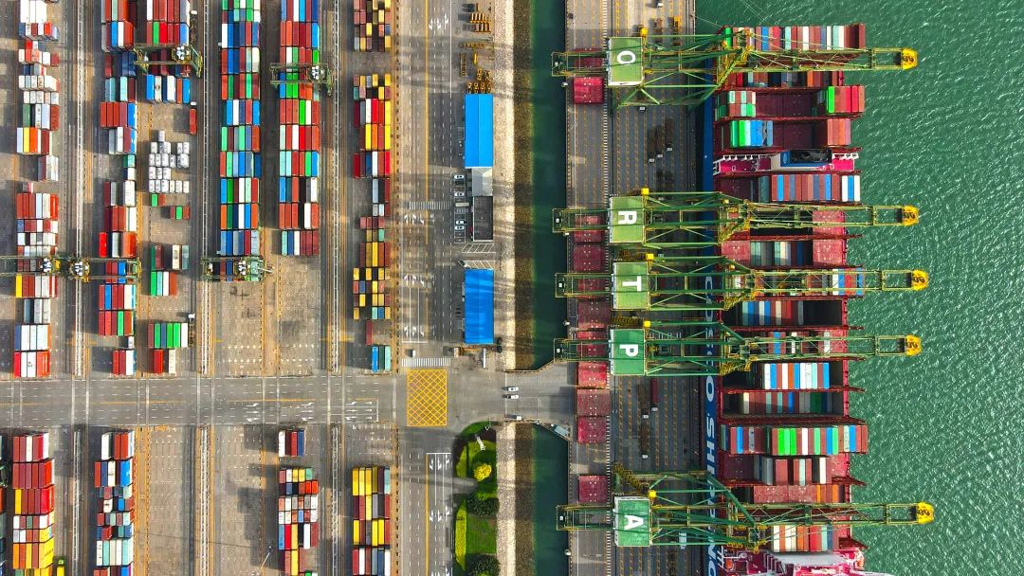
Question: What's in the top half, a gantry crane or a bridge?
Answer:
gantry crane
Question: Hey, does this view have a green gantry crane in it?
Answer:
Yes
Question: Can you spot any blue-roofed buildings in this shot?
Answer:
Yes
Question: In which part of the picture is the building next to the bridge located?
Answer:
center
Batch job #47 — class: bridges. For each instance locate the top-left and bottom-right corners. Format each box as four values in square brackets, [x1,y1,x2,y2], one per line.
[494,362,572,447]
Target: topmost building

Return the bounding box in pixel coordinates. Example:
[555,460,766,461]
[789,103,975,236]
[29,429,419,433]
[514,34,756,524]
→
[465,93,493,169]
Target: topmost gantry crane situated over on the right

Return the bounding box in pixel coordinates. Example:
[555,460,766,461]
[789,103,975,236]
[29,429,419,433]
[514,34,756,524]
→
[551,31,918,117]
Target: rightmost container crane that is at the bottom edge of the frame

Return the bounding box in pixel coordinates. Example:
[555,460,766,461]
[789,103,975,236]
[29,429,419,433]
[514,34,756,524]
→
[557,463,934,549]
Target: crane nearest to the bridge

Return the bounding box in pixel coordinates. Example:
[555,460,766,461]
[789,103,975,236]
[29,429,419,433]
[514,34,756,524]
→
[553,315,921,378]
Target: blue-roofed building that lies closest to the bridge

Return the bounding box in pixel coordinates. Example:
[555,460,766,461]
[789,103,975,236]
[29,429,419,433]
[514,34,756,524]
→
[465,269,494,344]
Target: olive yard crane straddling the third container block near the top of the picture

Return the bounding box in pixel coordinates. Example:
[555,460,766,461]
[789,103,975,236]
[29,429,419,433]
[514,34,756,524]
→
[136,44,216,81]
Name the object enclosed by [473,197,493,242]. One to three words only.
building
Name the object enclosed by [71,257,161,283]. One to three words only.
crane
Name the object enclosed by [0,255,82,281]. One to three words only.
crane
